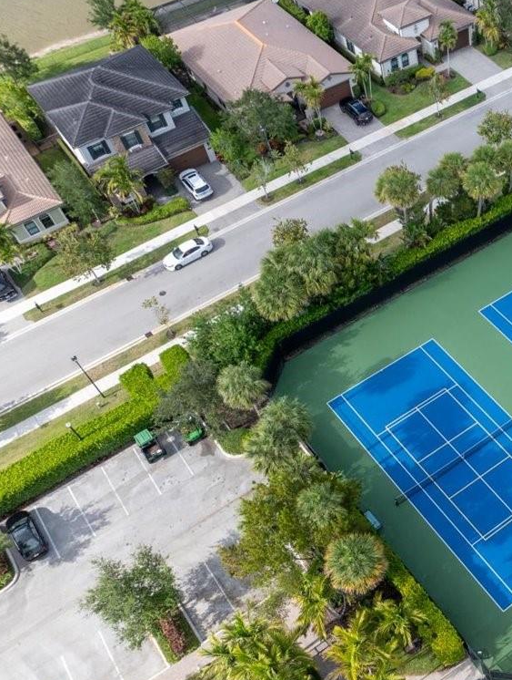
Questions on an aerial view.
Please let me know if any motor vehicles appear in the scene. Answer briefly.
Yes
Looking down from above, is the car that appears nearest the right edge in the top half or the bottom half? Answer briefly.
top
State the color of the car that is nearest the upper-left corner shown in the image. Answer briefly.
white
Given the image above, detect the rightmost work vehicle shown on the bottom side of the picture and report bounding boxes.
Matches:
[170,420,204,450]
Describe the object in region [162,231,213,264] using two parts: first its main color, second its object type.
white car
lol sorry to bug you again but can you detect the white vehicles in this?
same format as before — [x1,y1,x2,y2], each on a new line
[176,170,207,199]
[162,231,213,264]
